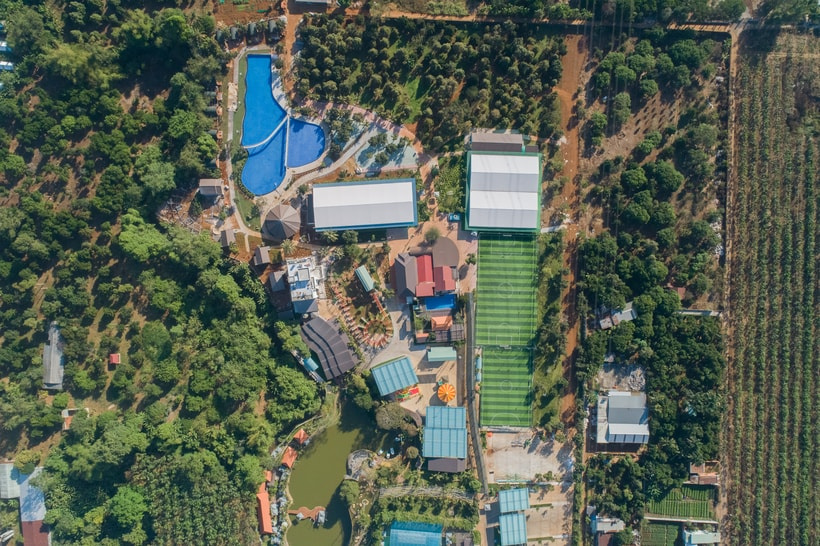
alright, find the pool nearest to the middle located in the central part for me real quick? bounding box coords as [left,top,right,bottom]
[424,292,456,311]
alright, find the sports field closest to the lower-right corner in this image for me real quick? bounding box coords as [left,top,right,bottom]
[480,343,533,430]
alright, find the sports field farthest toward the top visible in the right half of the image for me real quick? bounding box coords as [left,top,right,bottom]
[476,231,537,347]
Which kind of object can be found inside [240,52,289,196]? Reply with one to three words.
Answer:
swimming pool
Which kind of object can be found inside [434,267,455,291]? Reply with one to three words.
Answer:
house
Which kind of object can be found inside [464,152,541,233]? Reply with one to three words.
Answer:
building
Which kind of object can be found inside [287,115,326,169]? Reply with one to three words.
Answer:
swimming pool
